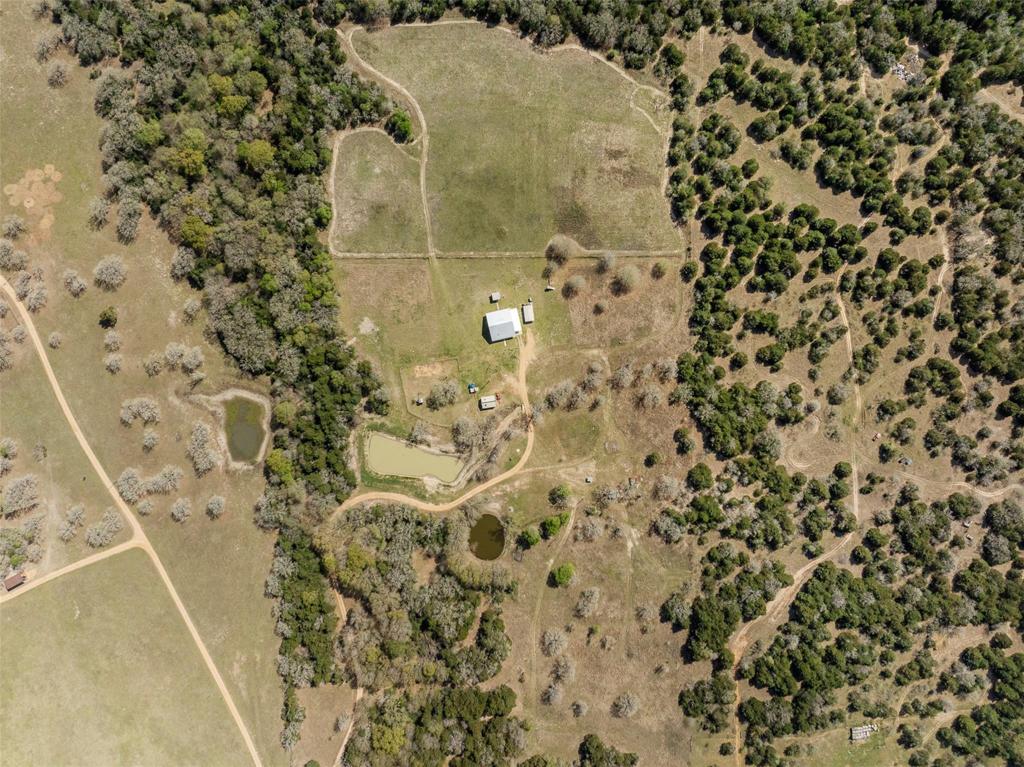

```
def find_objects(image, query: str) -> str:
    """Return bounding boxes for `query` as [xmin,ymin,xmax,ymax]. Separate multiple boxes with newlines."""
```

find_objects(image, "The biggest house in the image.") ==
[486,307,522,341]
